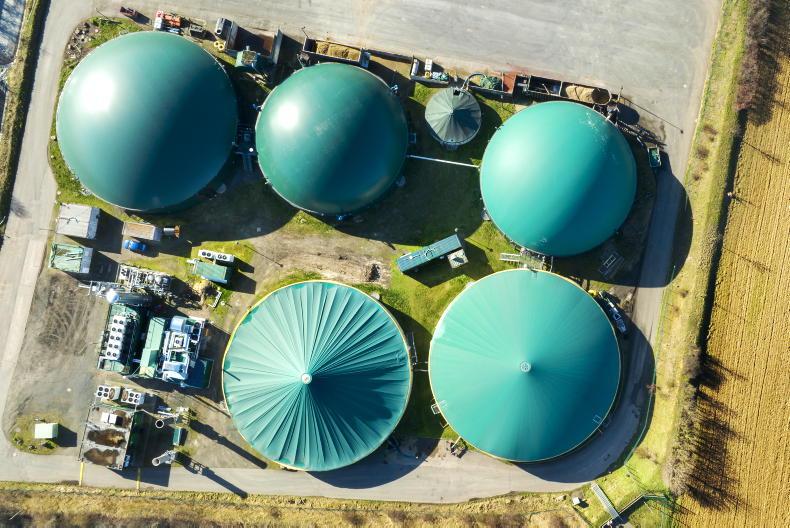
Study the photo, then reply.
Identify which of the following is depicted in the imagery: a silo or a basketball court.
silo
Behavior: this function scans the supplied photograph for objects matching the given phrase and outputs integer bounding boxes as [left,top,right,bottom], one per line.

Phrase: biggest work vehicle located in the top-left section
[151,7,179,29]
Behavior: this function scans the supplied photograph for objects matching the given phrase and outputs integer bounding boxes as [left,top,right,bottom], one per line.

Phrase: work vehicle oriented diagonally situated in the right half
[603,294,630,333]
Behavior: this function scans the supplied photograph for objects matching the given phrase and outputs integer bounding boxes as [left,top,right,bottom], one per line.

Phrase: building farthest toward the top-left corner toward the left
[56,205,101,239]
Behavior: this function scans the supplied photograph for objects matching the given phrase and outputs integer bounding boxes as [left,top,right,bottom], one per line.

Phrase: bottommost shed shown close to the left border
[35,422,66,438]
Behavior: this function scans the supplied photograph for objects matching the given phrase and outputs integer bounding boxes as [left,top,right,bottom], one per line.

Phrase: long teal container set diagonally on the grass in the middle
[397,235,462,273]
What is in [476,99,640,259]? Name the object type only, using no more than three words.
storage tank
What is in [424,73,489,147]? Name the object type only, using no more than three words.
silo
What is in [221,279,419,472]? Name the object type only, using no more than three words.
storage tank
